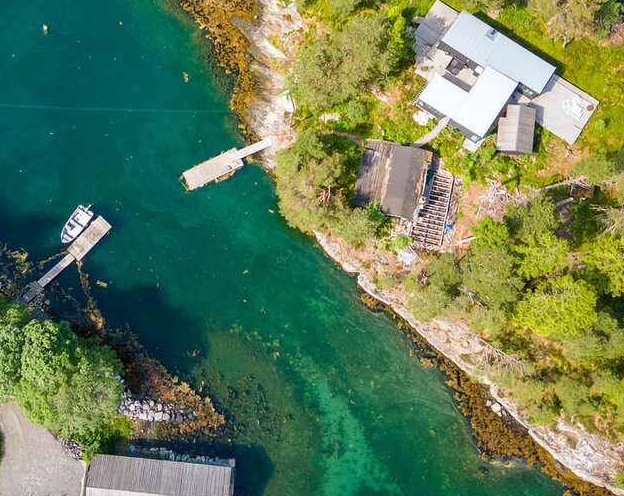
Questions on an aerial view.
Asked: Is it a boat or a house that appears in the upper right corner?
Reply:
house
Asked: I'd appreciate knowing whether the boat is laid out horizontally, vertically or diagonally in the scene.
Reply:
diagonally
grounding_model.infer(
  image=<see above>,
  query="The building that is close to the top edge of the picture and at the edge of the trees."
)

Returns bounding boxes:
[404,9,558,140]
